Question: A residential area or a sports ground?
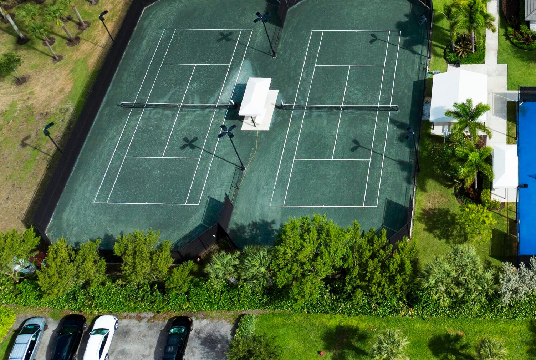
sports ground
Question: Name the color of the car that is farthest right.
black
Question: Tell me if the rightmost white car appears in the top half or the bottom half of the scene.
bottom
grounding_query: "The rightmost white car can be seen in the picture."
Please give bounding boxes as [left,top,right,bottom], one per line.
[81,316,119,360]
